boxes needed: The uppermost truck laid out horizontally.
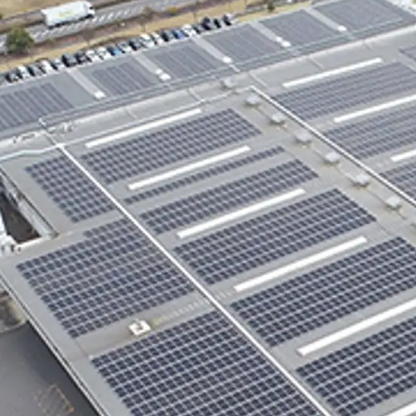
[41,0,98,27]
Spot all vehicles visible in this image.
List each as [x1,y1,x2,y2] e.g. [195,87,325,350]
[159,28,175,40]
[27,61,43,75]
[209,14,224,27]
[15,62,32,79]
[169,25,184,36]
[149,29,163,42]
[189,20,204,32]
[74,52,89,63]
[178,20,195,35]
[2,66,20,82]
[138,30,155,46]
[127,35,143,48]
[39,57,54,71]
[41,0,98,27]
[198,15,214,29]
[219,12,234,25]
[116,40,131,52]
[83,45,100,60]
[61,50,77,66]
[50,55,64,68]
